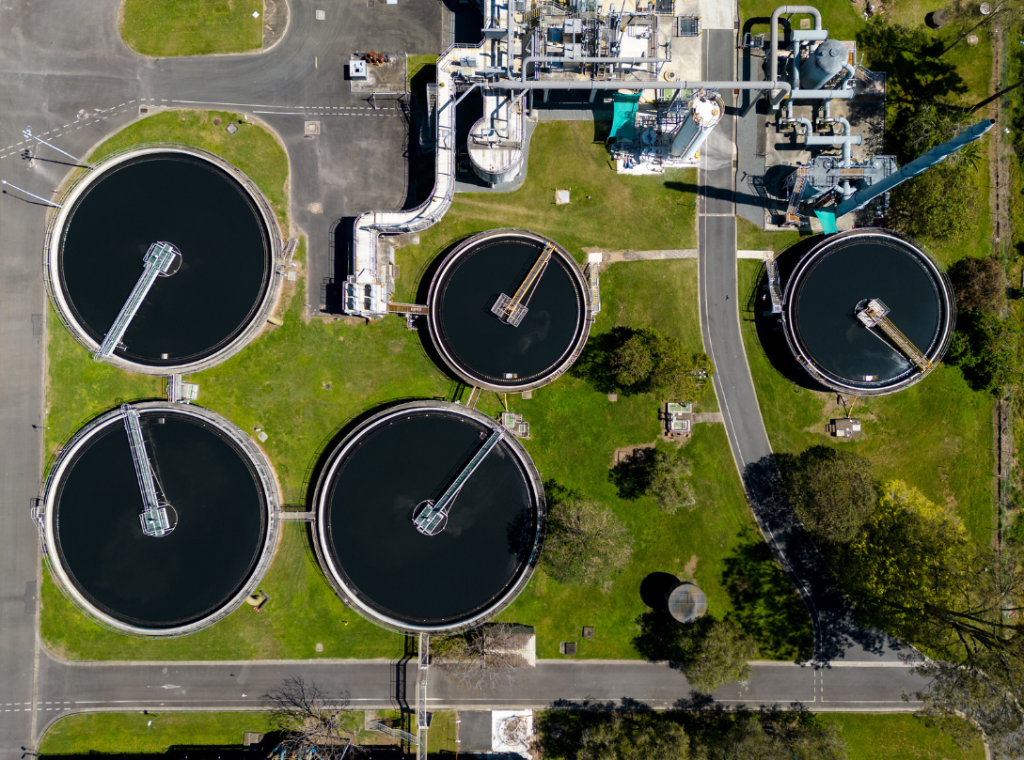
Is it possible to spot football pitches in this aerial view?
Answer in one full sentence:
No, no football pitch is visible in the view.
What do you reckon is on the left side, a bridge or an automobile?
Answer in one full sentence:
Visible on the left side is a bridge.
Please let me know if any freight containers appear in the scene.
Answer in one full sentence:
No, there isn't any freight container down there.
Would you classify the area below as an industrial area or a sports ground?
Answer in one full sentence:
The area seen from above is an industrial area.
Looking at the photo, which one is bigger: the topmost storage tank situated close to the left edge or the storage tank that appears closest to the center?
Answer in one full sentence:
Compared with the storage tank that appears closest to the center, the topmost storage tank situated close to the left edge is the bigger one.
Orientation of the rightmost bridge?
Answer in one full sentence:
What the image shows is the rightmost bridge lying diagonally.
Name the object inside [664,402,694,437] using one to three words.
building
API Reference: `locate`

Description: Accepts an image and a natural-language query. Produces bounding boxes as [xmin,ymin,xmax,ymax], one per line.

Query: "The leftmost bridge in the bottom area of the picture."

[118,405,180,536]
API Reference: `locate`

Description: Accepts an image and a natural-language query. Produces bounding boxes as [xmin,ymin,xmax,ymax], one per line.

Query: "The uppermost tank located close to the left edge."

[43,140,284,377]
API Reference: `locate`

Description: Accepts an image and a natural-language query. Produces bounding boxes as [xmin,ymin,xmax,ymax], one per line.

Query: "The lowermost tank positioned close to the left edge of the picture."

[38,400,283,640]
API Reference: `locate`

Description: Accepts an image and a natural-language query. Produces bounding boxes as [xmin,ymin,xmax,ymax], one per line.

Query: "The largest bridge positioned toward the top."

[89,240,182,365]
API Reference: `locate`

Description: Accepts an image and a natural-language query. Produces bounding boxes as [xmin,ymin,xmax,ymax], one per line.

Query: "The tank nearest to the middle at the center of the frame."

[426,226,592,393]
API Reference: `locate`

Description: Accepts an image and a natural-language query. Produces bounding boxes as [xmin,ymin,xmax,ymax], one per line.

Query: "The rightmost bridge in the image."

[853,291,939,372]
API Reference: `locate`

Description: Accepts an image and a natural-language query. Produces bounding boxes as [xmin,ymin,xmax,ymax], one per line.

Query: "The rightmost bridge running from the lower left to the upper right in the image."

[490,238,559,327]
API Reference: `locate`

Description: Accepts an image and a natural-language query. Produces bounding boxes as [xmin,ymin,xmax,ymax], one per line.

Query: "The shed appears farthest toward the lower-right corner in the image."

[831,418,861,436]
